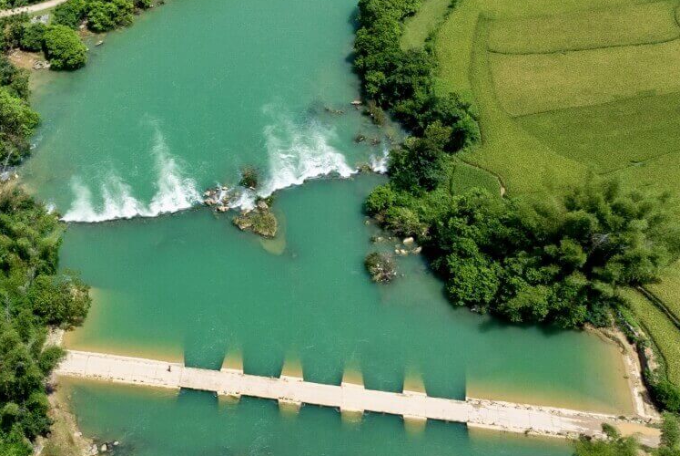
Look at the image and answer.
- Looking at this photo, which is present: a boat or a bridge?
bridge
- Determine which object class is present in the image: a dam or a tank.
dam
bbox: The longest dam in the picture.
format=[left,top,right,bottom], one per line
[57,169,388,223]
